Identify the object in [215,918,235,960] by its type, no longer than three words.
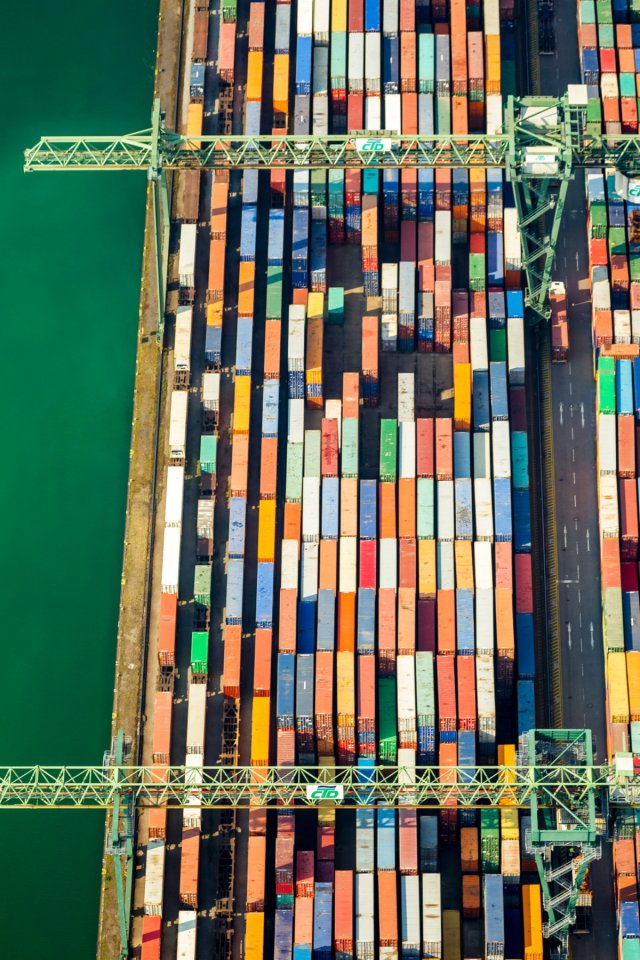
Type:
rail car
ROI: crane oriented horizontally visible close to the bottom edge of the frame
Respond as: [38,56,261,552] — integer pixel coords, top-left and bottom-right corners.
[0,729,640,960]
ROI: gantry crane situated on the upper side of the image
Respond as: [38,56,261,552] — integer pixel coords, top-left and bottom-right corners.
[24,81,640,352]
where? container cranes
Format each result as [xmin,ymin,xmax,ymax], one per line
[24,81,640,352]
[0,729,640,960]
